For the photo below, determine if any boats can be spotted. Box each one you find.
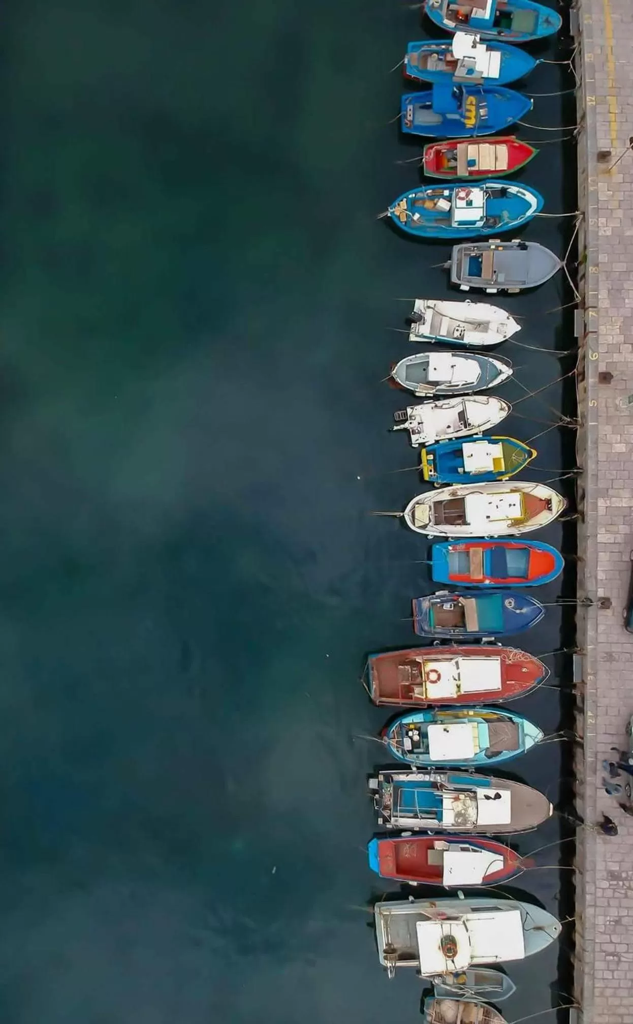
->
[423,0,564,45]
[401,82,534,142]
[388,351,516,397]
[368,831,535,891]
[398,481,569,541]
[381,705,547,770]
[368,645,550,708]
[423,135,541,181]
[422,992,508,1024]
[434,966,518,1002]
[375,885,565,979]
[420,436,539,489]
[409,297,523,348]
[432,538,567,587]
[403,32,539,87]
[442,238,564,293]
[411,589,547,646]
[369,765,554,837]
[388,179,547,240]
[388,395,514,448]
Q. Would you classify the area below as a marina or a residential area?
marina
